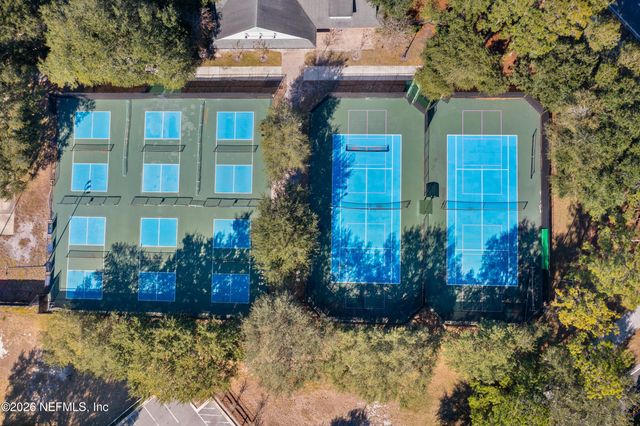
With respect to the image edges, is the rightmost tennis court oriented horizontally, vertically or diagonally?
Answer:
vertically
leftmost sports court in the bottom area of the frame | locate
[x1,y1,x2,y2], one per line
[66,217,106,299]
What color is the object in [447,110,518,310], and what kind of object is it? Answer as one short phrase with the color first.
blue tennis court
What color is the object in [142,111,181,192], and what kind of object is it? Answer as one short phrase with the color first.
blue sports court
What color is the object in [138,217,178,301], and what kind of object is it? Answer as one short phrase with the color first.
blue sports court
